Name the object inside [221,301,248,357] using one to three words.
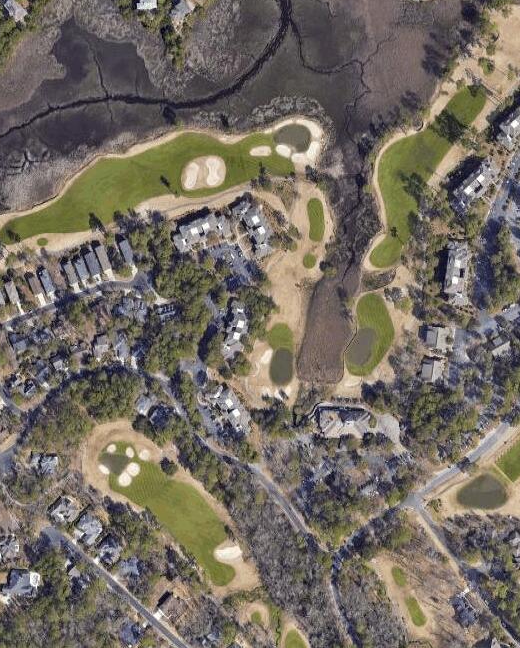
building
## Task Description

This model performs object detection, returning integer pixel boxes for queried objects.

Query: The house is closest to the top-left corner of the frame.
[1,0,28,23]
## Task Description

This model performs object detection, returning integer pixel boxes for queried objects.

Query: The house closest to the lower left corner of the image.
[8,572,39,599]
